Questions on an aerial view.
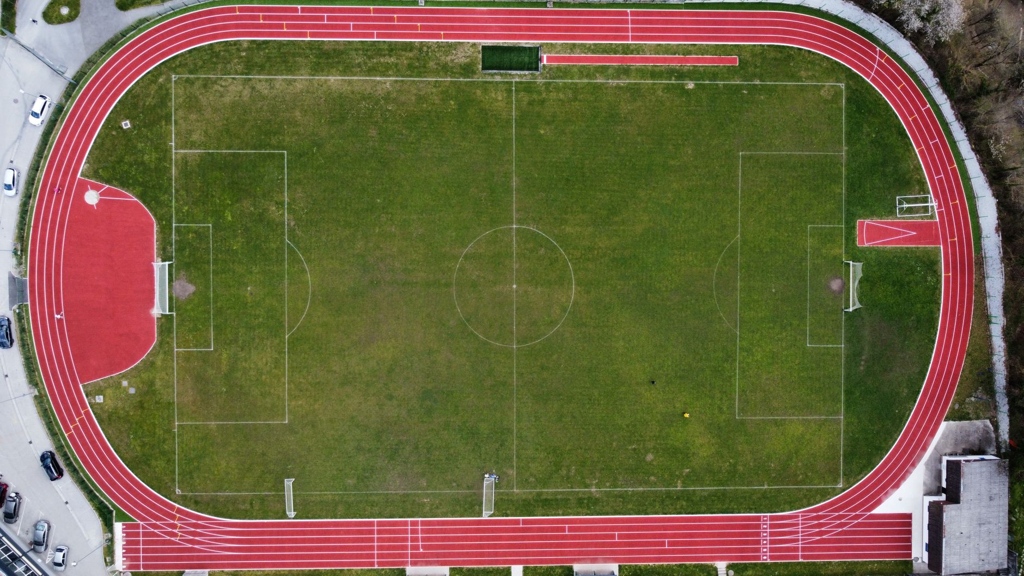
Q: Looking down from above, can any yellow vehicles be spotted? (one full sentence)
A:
No, no yellow vehicle can be seen from above.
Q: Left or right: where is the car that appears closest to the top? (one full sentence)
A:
The car that appears closest to the top sits on the left side.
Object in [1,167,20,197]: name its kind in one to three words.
car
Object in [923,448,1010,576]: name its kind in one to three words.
building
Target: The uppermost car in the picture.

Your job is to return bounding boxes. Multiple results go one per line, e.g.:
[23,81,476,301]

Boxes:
[28,94,51,127]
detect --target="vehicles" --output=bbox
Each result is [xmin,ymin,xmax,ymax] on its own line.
[1,167,20,197]
[51,545,69,573]
[0,317,14,348]
[31,520,51,553]
[40,450,62,482]
[28,94,51,127]
[3,494,22,524]
[0,482,8,511]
